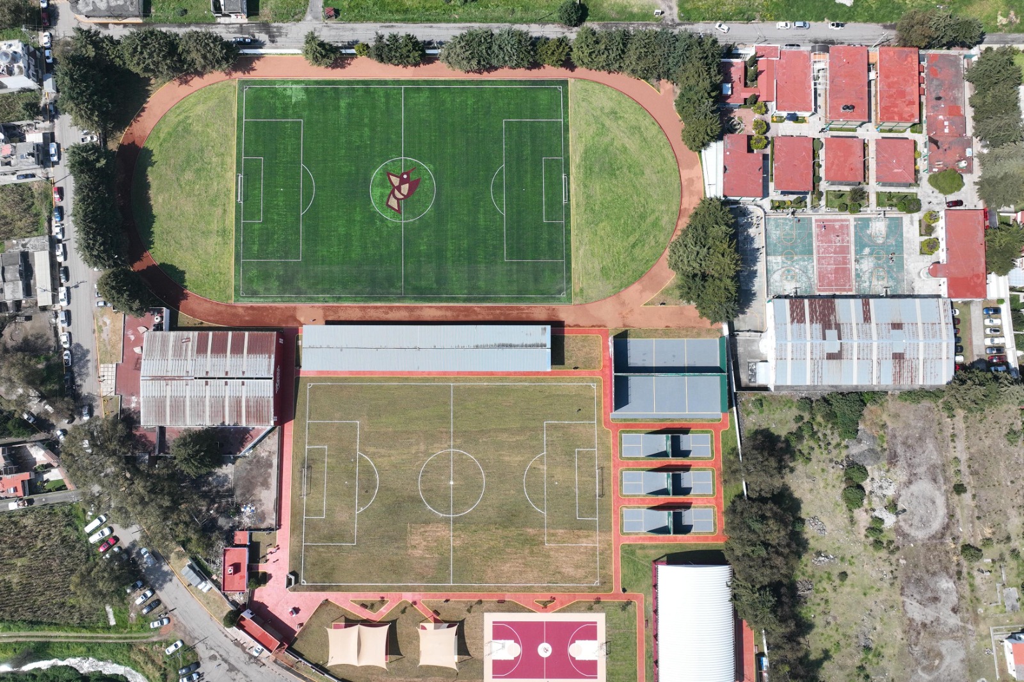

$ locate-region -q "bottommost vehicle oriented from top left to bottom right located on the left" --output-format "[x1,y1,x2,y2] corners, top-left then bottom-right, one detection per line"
[138,546,155,564]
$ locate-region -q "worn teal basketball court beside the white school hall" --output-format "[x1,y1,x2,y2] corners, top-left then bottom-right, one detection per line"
[854,217,905,295]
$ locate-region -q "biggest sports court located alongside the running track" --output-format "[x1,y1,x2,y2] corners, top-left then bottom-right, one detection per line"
[609,333,732,418]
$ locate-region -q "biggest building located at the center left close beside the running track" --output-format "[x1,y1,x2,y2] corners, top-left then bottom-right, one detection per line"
[140,331,283,425]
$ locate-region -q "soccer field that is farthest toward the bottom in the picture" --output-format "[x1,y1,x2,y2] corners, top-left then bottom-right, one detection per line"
[297,380,603,589]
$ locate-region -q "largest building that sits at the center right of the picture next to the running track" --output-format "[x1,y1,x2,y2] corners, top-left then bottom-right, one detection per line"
[767,298,955,391]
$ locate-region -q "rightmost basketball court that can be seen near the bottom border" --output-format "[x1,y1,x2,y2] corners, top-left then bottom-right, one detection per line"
[484,613,606,682]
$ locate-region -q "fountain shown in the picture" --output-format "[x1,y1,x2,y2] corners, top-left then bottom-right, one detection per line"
[726,116,745,134]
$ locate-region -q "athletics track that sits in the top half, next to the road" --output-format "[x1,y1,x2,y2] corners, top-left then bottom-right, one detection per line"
[113,55,736,329]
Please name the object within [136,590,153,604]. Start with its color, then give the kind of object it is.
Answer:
white car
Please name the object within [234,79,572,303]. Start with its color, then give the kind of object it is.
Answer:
green soccer field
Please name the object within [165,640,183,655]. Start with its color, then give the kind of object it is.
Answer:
white car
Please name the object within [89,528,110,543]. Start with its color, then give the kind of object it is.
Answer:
white vehicle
